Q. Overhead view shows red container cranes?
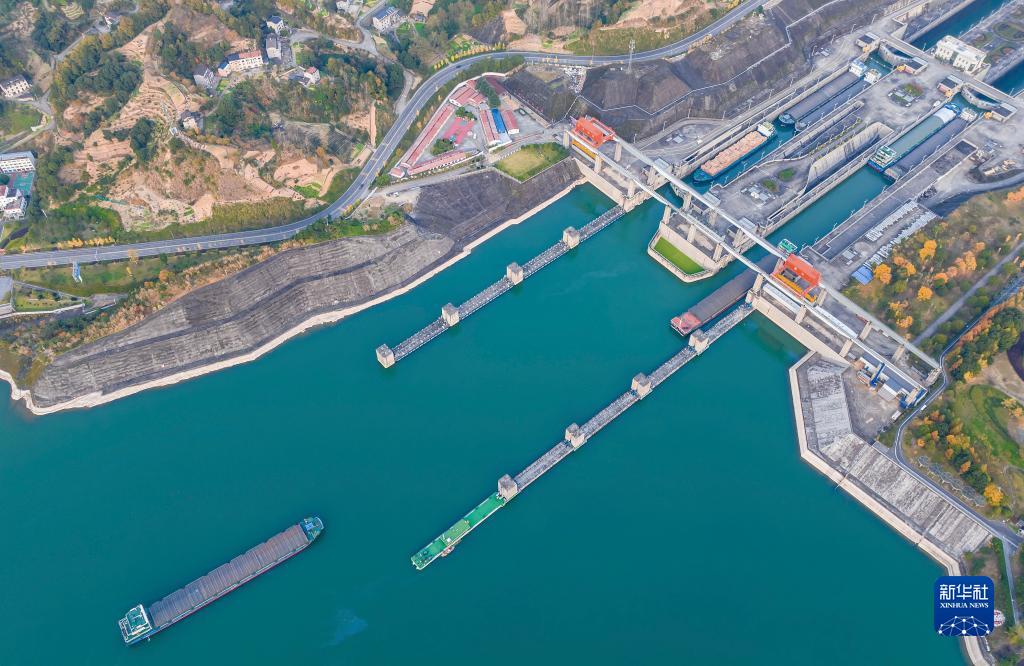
Yes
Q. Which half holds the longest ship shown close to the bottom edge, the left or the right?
left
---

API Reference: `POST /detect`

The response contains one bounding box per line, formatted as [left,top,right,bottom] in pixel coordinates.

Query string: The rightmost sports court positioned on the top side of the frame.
[444,118,475,144]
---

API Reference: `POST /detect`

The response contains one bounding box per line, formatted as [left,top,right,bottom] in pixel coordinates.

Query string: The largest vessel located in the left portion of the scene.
[118,520,322,644]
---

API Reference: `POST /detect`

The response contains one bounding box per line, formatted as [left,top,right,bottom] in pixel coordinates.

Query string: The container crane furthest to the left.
[566,110,618,159]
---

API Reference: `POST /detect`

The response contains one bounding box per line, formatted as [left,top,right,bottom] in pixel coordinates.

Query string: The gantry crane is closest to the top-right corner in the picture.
[764,249,824,299]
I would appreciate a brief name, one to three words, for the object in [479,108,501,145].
building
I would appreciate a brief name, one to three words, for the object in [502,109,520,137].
building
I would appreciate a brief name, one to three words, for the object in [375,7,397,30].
house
